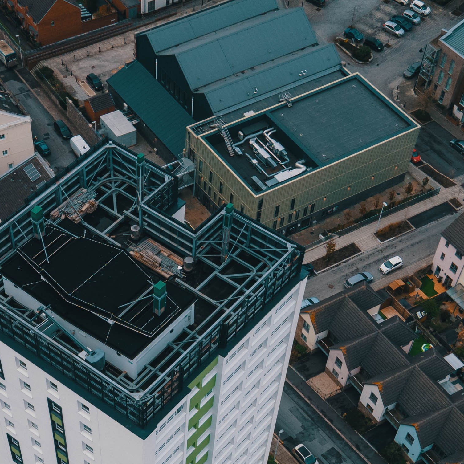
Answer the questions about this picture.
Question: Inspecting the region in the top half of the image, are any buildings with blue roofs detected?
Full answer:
Yes, looking in the top half of the image, one can make out a building with a blue roof.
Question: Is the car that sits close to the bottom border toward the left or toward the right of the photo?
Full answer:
It is on the right.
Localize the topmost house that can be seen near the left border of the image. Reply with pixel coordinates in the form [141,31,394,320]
[0,0,82,51]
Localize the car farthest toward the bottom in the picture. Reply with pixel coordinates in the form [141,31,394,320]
[292,441,320,464]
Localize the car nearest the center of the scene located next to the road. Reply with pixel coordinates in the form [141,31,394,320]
[295,259,322,280]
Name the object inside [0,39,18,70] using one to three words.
vehicle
